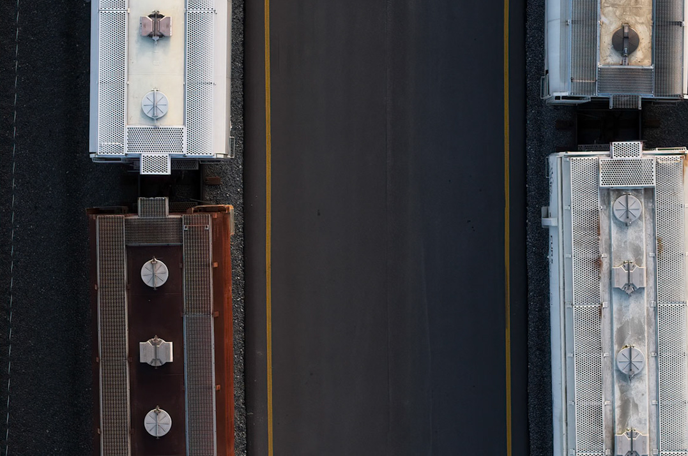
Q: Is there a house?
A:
No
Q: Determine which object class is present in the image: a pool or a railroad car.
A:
railroad car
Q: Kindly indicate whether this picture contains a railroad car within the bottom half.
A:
Yes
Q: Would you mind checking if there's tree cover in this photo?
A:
No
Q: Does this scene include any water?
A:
No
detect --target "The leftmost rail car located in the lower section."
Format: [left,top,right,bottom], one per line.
[84,177,240,456]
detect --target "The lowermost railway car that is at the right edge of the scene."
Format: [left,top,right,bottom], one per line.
[539,123,688,456]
